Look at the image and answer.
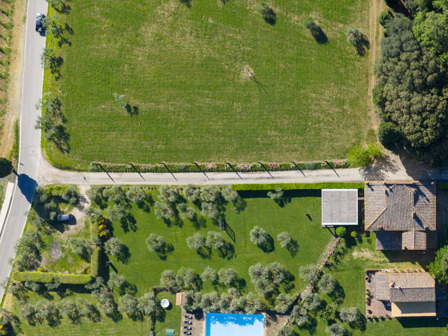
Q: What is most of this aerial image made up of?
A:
grass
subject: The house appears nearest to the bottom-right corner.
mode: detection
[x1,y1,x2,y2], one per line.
[374,271,447,317]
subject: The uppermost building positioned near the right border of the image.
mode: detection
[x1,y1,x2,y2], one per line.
[362,179,438,250]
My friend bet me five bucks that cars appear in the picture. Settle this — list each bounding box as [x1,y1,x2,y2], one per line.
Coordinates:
[36,14,44,31]
[57,214,72,222]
